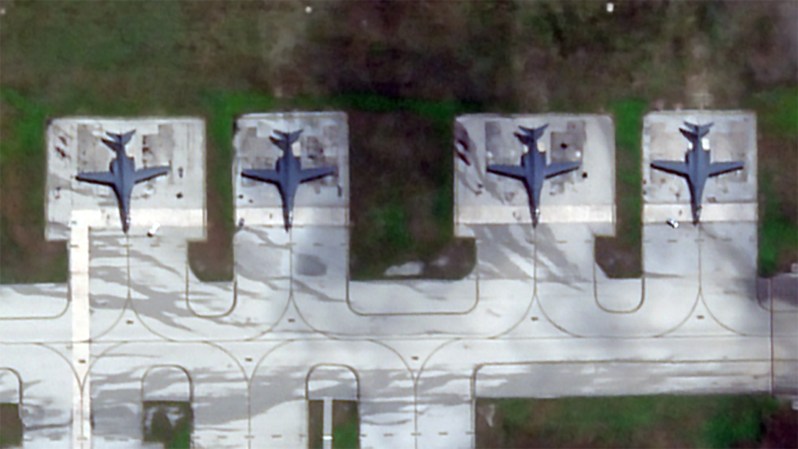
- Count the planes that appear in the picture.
4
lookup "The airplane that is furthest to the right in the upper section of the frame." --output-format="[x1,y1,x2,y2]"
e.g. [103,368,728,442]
[651,122,745,222]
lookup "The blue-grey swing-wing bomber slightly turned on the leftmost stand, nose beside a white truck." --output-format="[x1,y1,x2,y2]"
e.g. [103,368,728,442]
[76,130,170,231]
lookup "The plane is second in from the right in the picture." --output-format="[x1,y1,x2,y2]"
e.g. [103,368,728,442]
[488,126,581,226]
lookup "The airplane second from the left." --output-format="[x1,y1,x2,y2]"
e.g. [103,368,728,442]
[242,129,335,228]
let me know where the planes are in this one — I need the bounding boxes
[76,130,170,231]
[651,122,745,222]
[242,129,335,228]
[488,126,581,226]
